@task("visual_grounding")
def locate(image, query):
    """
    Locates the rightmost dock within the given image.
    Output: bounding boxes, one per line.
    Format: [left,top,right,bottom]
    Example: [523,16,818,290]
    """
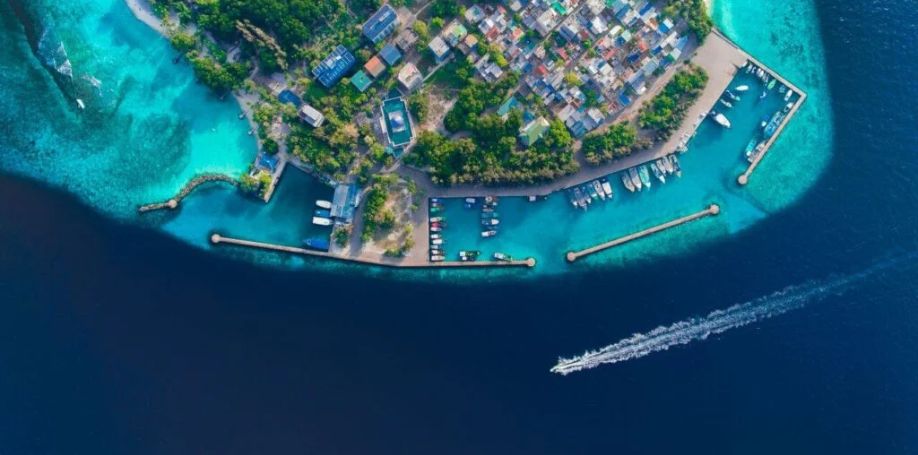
[732,42,806,188]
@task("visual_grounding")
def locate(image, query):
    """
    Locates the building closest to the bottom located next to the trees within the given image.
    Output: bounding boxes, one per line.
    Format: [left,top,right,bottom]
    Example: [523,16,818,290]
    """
[330,183,364,225]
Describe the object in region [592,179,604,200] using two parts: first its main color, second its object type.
white boat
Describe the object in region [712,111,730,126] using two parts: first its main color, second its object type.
white boat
